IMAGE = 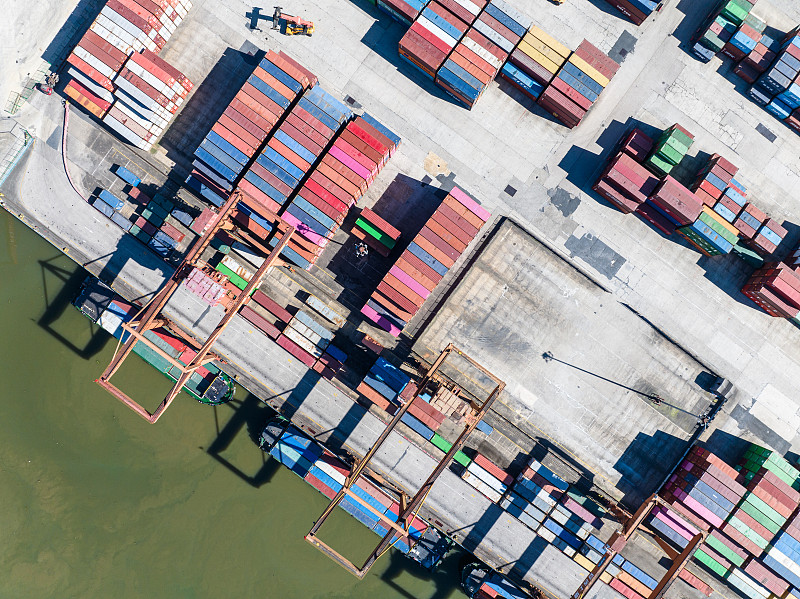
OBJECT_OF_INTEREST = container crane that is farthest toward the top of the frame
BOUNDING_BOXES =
[92,184,300,423]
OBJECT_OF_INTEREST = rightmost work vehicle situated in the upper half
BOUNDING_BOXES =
[266,0,316,34]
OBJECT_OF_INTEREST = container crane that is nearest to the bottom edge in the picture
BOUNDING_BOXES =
[523,487,713,599]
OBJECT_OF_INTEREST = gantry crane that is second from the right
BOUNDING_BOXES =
[303,339,508,579]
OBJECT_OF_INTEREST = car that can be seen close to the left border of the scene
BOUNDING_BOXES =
[34,81,51,95]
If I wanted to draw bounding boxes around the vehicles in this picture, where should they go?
[266,0,316,34]
[34,81,51,95]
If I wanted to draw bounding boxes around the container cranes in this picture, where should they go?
[303,339,508,579]
[92,184,300,423]
[523,487,713,599]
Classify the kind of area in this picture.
port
